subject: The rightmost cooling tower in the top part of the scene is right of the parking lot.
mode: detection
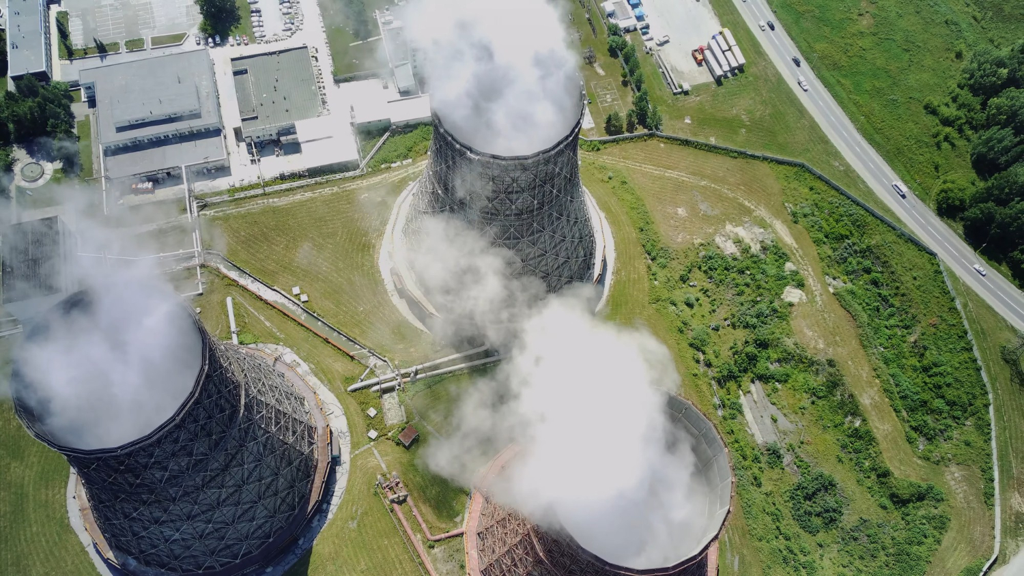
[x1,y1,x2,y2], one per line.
[394,37,604,340]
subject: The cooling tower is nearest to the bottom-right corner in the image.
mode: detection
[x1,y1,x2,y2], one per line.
[466,379,738,576]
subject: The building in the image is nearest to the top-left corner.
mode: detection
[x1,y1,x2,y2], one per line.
[6,0,52,86]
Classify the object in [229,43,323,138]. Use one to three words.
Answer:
building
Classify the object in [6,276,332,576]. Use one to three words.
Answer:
cooling tower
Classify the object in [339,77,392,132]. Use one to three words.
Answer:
shed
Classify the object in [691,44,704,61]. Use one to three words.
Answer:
vehicle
